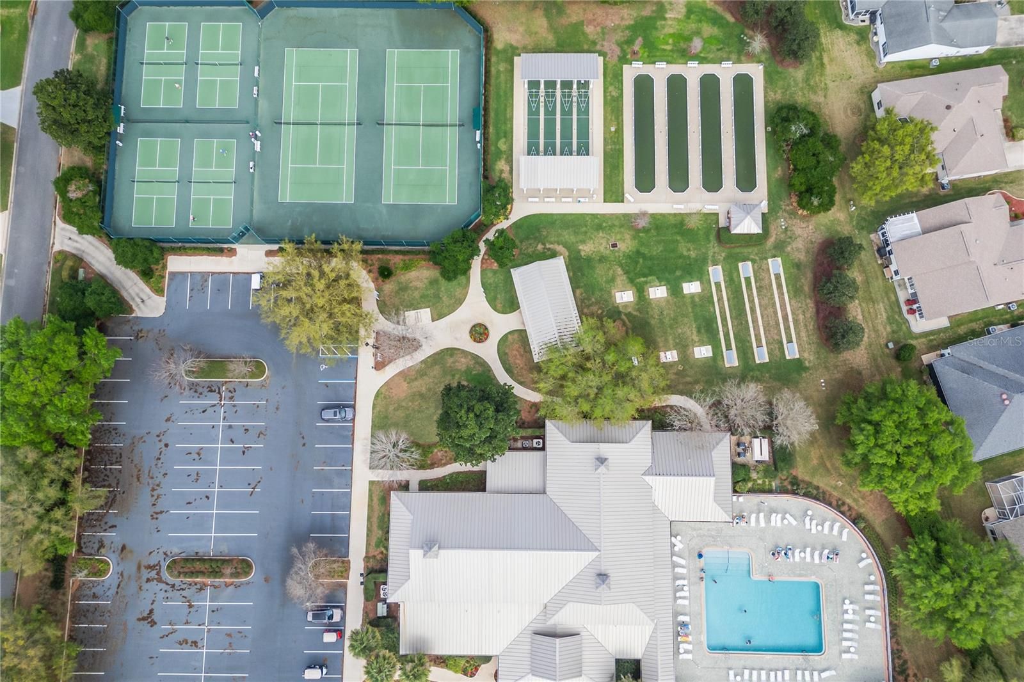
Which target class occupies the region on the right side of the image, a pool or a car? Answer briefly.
pool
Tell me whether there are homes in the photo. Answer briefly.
Yes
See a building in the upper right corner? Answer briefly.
Yes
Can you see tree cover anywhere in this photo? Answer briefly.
Yes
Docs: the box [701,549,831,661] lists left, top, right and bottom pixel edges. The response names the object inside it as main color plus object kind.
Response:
blue swimming pool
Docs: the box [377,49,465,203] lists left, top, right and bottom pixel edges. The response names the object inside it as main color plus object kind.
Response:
green tennis court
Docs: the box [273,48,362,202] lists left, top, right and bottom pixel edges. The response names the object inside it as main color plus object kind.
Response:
green tennis court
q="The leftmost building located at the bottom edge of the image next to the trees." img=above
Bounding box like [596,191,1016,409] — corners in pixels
[386,420,733,682]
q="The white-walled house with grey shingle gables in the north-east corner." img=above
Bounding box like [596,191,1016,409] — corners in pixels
[847,0,999,64]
